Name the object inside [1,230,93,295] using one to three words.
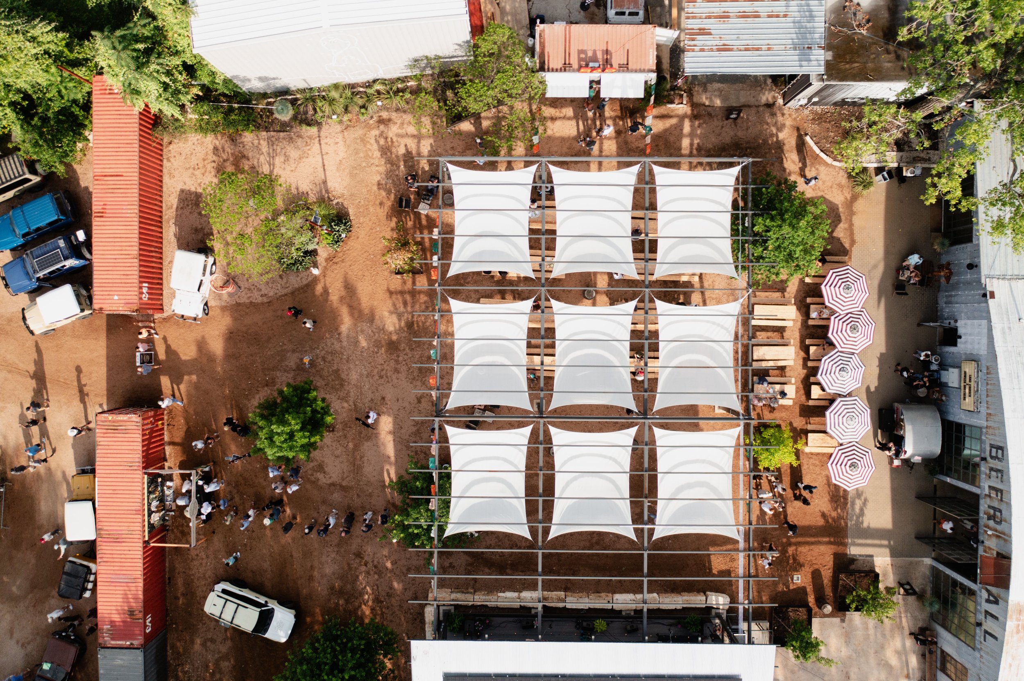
car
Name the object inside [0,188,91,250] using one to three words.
car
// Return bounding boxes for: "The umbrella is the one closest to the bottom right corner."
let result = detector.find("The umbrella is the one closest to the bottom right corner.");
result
[825,440,875,487]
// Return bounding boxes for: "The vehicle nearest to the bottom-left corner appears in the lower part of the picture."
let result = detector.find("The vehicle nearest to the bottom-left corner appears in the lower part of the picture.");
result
[29,619,89,681]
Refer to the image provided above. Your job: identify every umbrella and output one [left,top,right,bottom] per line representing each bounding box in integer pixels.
[825,307,876,352]
[819,395,870,444]
[817,267,867,313]
[825,440,875,487]
[815,349,865,397]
